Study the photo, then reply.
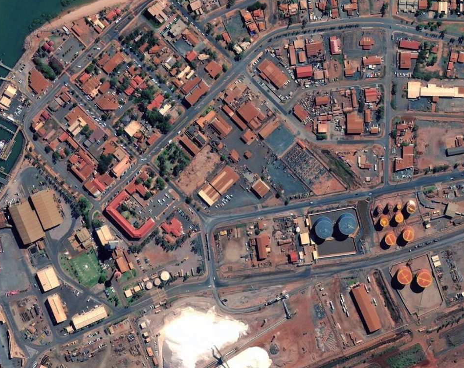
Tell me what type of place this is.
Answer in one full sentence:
This looks like a residential area.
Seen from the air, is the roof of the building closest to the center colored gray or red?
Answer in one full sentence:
The color of the roof of the building closest to the center is red.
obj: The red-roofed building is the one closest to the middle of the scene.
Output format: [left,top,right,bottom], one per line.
[211,160,243,193]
